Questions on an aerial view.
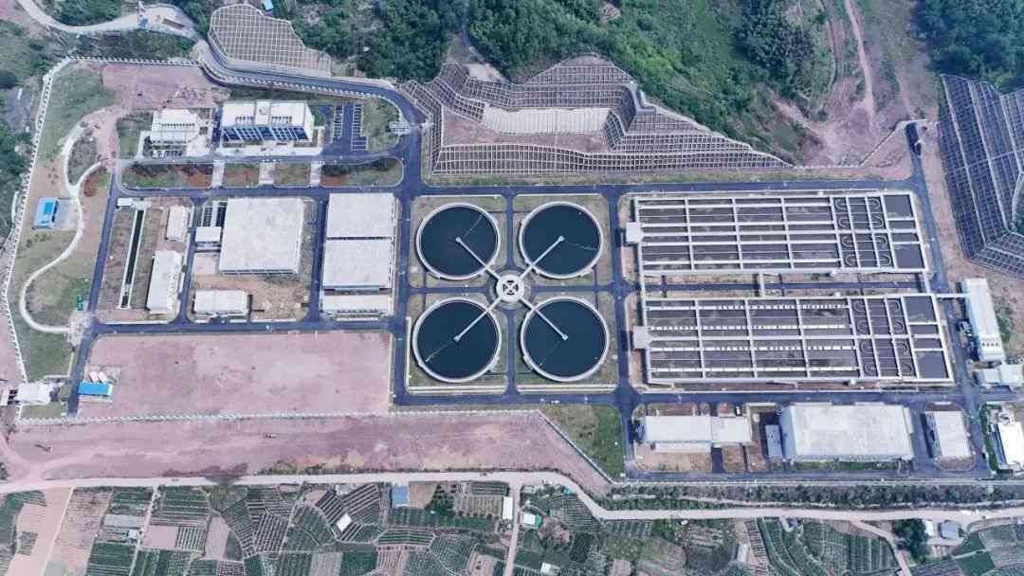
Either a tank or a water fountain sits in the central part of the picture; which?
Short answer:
tank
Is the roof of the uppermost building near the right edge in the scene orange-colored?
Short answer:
No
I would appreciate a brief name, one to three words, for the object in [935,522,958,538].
house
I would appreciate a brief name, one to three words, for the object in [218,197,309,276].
building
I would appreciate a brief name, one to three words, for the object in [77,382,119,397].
shed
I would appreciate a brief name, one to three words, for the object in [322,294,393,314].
building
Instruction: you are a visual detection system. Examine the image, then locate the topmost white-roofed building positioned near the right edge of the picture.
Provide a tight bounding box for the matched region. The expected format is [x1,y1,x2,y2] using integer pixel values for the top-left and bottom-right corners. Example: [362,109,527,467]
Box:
[956,279,1007,363]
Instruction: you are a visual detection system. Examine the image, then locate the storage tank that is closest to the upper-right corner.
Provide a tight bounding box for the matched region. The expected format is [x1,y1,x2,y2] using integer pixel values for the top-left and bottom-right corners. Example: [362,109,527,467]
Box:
[519,201,603,280]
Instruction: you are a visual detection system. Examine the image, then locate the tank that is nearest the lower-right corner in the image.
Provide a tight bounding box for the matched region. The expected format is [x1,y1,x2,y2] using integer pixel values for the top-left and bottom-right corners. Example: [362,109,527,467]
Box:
[520,297,609,383]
